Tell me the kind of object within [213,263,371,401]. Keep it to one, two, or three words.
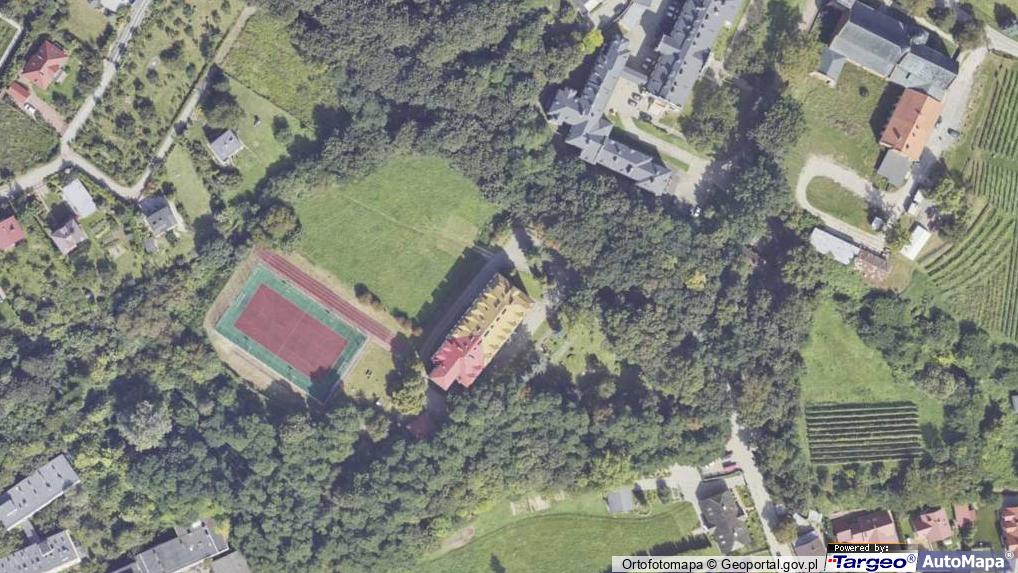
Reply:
sports court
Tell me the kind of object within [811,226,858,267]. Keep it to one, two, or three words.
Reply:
shed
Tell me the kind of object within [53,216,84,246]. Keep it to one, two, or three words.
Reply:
house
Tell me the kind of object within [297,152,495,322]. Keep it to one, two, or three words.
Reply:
sports field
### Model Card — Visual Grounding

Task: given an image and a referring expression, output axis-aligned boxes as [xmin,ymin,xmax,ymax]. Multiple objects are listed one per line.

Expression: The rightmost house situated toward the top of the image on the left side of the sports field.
[212,131,242,162]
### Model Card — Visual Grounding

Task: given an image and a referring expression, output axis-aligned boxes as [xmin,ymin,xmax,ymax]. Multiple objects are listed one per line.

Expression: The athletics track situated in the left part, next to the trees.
[255,249,399,350]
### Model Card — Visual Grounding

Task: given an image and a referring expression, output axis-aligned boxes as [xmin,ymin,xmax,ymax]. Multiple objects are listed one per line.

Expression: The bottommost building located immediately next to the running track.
[429,270,534,392]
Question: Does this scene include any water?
No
